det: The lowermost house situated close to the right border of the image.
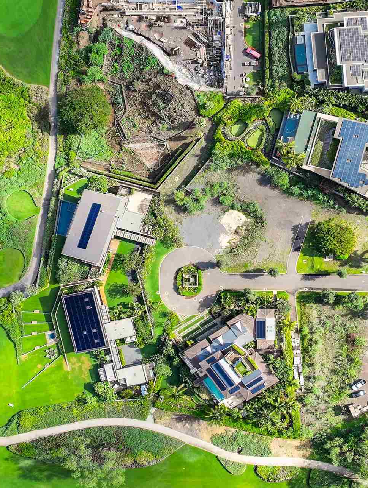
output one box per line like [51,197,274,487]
[272,110,368,199]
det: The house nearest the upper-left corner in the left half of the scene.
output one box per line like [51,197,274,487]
[62,187,156,266]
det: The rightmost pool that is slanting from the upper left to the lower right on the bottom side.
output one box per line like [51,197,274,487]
[203,375,226,403]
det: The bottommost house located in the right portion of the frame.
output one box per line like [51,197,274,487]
[179,308,279,408]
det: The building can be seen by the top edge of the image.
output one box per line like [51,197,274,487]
[304,8,368,90]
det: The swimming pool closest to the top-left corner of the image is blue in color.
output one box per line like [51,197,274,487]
[56,199,79,237]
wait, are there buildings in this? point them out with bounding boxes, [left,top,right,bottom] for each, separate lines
[272,110,368,199]
[62,288,156,387]
[304,8,368,90]
[62,187,156,266]
[179,308,279,408]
